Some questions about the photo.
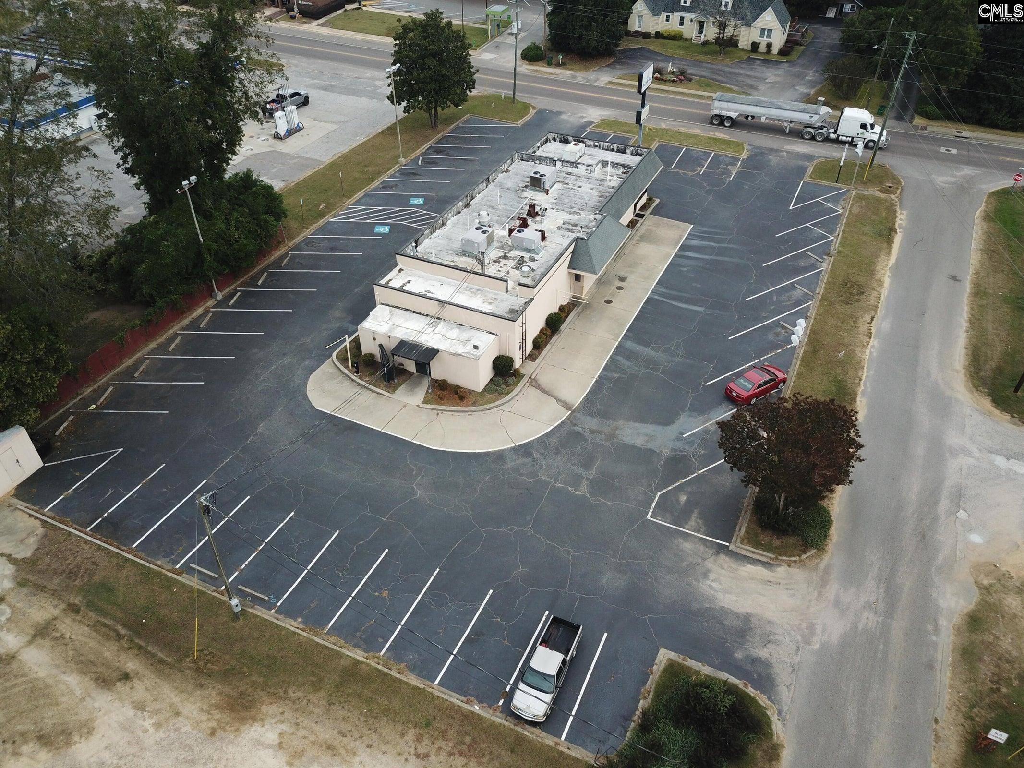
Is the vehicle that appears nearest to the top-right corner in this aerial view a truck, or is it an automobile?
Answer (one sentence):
I'd say the vehicle that appears nearest to the top-right corner is a truck.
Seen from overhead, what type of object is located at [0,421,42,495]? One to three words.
shed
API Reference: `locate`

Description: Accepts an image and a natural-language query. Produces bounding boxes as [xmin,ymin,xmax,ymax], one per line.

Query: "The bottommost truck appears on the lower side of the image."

[510,608,590,720]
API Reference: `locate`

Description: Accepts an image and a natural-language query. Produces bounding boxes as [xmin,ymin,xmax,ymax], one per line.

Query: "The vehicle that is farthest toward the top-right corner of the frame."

[713,90,892,150]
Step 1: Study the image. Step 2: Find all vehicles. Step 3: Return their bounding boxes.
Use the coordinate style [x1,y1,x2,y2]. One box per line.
[510,608,590,720]
[256,86,312,112]
[725,364,792,405]
[713,90,892,150]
